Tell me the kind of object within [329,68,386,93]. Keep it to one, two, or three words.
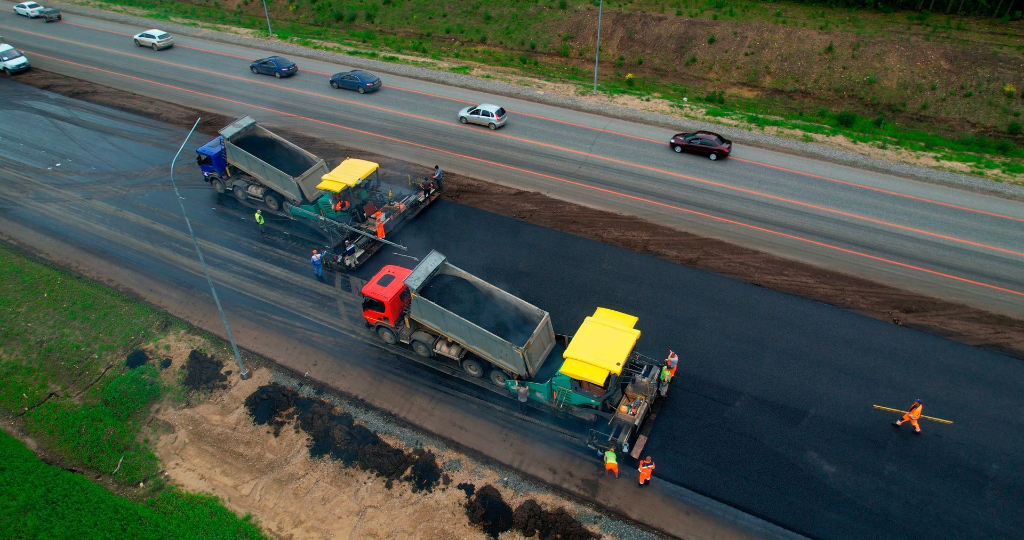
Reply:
car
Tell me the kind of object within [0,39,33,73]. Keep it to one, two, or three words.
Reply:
vehicle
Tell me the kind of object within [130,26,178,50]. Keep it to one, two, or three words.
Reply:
car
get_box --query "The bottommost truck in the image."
[356,247,563,386]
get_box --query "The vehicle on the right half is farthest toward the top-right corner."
[665,127,734,158]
